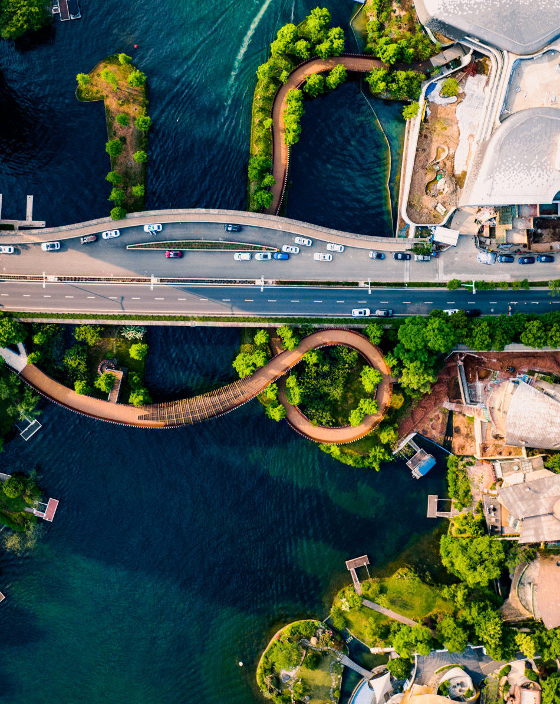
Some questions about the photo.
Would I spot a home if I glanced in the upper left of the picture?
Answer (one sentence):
No, in the upper left of the picture there is no home.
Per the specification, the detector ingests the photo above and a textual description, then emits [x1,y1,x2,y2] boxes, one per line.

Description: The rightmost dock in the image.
[427,494,453,520]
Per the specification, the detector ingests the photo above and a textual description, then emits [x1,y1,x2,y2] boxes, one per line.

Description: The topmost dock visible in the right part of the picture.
[404,439,430,468]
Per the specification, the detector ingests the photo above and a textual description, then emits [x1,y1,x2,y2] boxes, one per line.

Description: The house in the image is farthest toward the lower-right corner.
[498,675,541,704]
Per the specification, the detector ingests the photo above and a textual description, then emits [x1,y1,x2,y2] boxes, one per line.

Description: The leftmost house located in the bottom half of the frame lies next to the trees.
[395,659,483,704]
